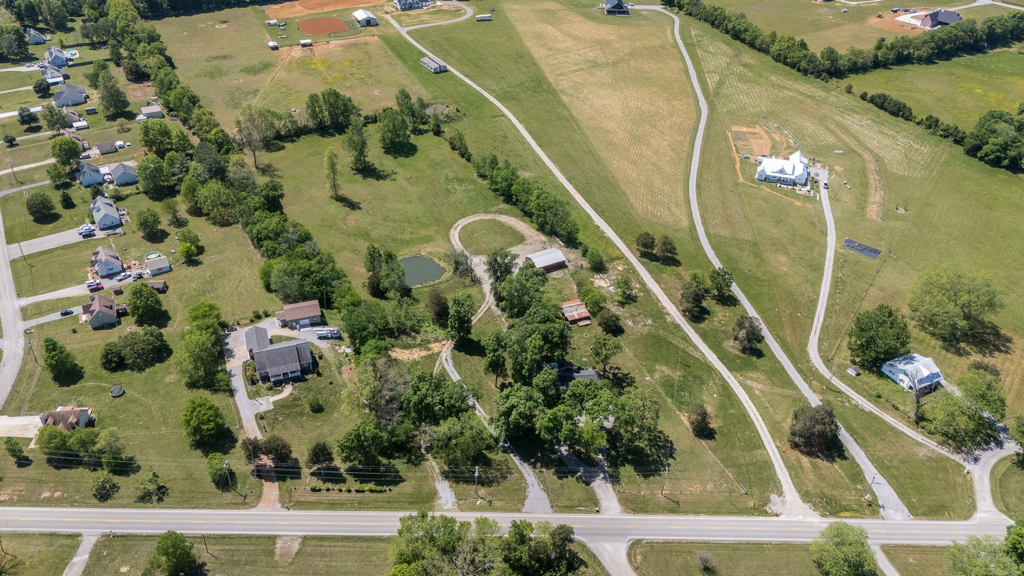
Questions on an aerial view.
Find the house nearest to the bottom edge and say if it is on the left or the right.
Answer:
left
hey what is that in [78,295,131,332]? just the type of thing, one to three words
house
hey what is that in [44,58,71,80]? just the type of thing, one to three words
house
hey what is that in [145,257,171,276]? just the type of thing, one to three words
building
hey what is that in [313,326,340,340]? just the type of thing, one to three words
vehicle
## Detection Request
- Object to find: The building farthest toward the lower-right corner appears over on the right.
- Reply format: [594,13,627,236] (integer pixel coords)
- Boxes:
[882,353,943,393]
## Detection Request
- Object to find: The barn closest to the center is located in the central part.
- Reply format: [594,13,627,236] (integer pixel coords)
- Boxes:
[523,249,567,273]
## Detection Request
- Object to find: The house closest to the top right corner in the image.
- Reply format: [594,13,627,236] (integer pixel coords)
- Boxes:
[920,12,959,29]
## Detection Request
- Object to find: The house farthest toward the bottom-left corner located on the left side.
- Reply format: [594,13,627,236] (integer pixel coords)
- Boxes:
[38,395,103,433]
